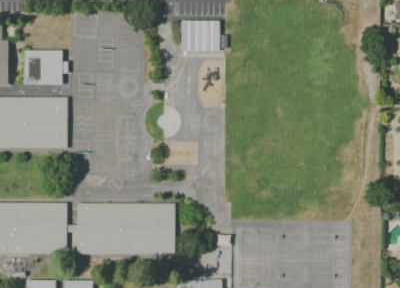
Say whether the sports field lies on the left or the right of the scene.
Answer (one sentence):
It is on the right.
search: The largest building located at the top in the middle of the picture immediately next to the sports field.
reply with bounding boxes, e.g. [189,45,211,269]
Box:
[181,20,220,52]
